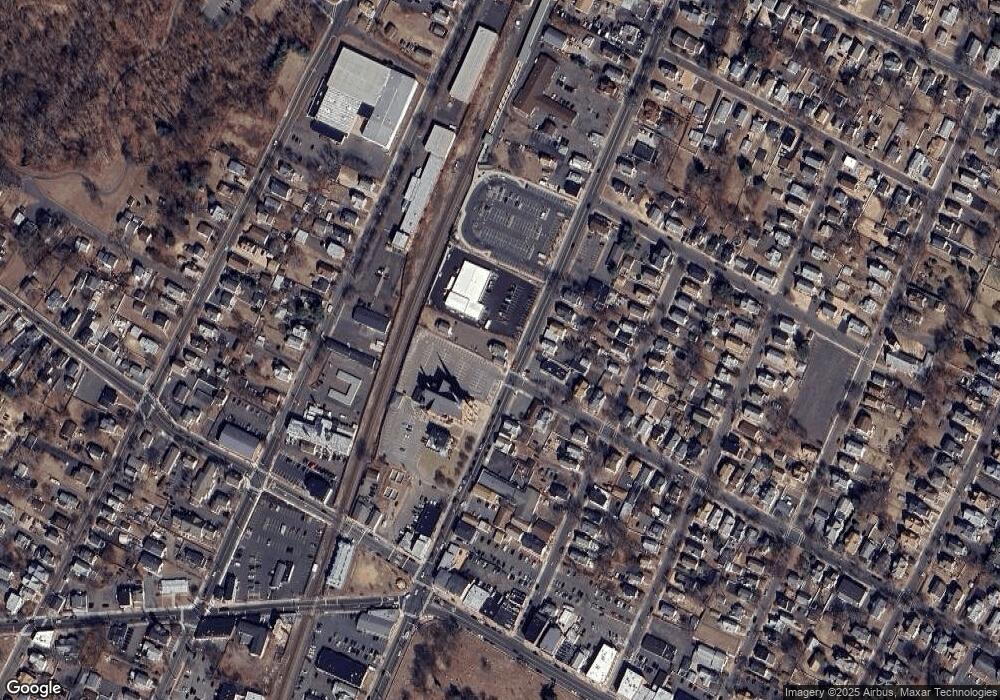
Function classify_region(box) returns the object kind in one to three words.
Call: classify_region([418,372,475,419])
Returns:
building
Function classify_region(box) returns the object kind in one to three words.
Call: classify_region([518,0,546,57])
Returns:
shed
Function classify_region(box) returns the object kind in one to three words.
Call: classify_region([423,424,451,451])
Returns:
house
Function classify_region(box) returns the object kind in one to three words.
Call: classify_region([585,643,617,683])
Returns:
building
